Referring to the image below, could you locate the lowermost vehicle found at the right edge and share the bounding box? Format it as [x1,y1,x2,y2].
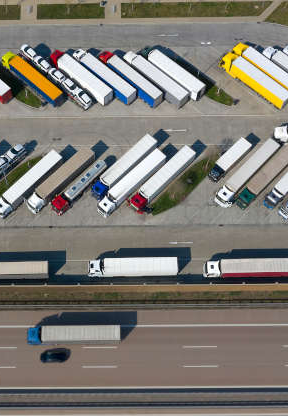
[200,259,288,278]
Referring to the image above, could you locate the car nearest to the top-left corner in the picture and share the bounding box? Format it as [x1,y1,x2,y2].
[19,45,37,61]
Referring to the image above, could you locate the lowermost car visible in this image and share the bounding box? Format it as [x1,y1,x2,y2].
[42,350,68,363]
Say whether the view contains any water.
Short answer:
No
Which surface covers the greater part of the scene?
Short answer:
paved ground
